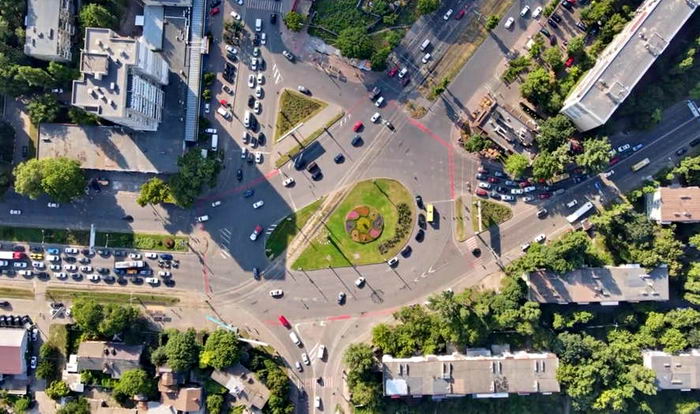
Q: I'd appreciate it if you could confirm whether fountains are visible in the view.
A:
No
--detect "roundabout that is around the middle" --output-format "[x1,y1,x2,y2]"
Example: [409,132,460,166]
[266,180,414,271]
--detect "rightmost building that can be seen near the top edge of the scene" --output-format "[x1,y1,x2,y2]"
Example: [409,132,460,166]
[558,0,700,131]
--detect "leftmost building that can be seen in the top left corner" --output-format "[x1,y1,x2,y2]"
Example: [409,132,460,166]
[23,0,81,67]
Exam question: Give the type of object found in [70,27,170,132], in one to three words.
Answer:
building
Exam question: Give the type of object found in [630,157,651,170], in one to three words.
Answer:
vehicle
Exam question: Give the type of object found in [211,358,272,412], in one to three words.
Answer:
house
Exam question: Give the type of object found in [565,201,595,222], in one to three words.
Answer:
bus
